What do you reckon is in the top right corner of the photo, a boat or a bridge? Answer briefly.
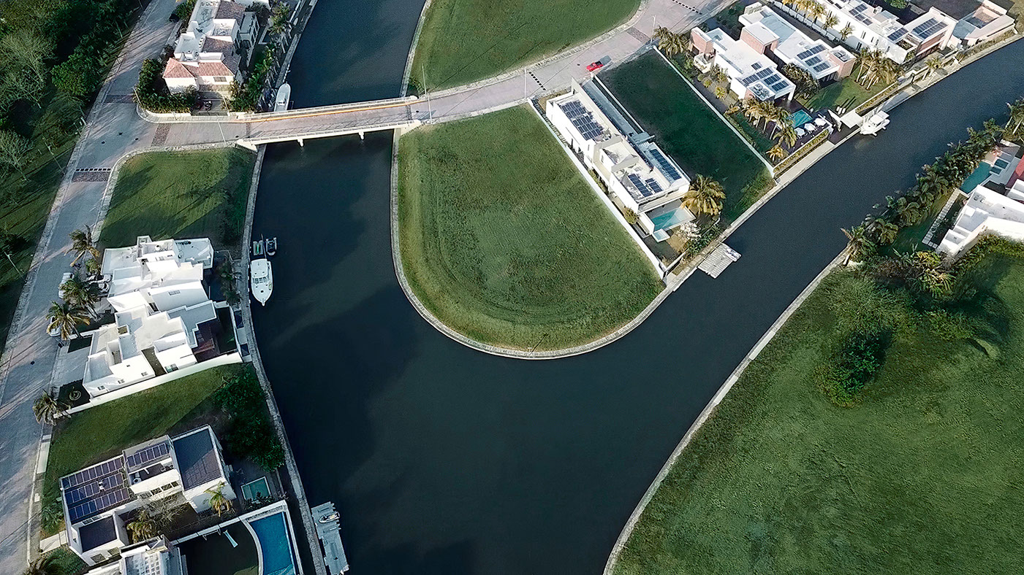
boat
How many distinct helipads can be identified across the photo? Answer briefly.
0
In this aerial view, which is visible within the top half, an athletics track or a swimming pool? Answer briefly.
swimming pool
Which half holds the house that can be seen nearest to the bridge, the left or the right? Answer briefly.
left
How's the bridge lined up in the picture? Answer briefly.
from left to right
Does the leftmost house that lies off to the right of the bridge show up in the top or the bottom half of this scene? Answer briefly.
top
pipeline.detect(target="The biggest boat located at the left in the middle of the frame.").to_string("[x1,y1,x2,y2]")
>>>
[248,251,272,304]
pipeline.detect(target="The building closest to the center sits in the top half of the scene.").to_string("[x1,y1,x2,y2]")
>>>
[546,78,690,242]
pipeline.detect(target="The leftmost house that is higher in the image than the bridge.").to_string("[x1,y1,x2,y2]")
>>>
[163,0,276,97]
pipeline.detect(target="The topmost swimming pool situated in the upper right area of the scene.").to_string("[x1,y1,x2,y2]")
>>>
[791,108,813,128]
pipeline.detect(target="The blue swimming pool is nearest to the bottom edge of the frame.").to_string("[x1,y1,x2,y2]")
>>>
[243,506,298,575]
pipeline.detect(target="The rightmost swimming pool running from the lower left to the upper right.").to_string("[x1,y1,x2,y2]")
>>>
[960,162,994,195]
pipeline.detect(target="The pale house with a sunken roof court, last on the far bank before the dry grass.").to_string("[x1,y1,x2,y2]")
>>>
[948,0,1015,53]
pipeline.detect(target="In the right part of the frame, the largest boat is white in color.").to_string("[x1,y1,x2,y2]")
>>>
[861,102,894,132]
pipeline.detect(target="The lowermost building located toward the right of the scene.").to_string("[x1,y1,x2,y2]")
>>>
[932,179,1024,267]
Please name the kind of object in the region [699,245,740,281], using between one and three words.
pier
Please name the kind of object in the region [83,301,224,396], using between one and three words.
house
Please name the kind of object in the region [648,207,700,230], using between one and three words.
swimming pool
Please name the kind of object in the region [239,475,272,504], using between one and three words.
swimming pool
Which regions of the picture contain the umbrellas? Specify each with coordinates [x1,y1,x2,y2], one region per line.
[813,117,827,132]
[802,122,816,132]
[793,127,806,136]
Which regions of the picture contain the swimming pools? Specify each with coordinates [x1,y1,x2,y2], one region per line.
[239,475,272,504]
[994,157,1011,170]
[960,162,994,195]
[648,207,700,230]
[243,506,298,575]
[989,165,1004,176]
[791,108,813,128]
[653,225,673,243]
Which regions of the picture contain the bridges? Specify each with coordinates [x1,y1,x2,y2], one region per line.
[235,96,422,149]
